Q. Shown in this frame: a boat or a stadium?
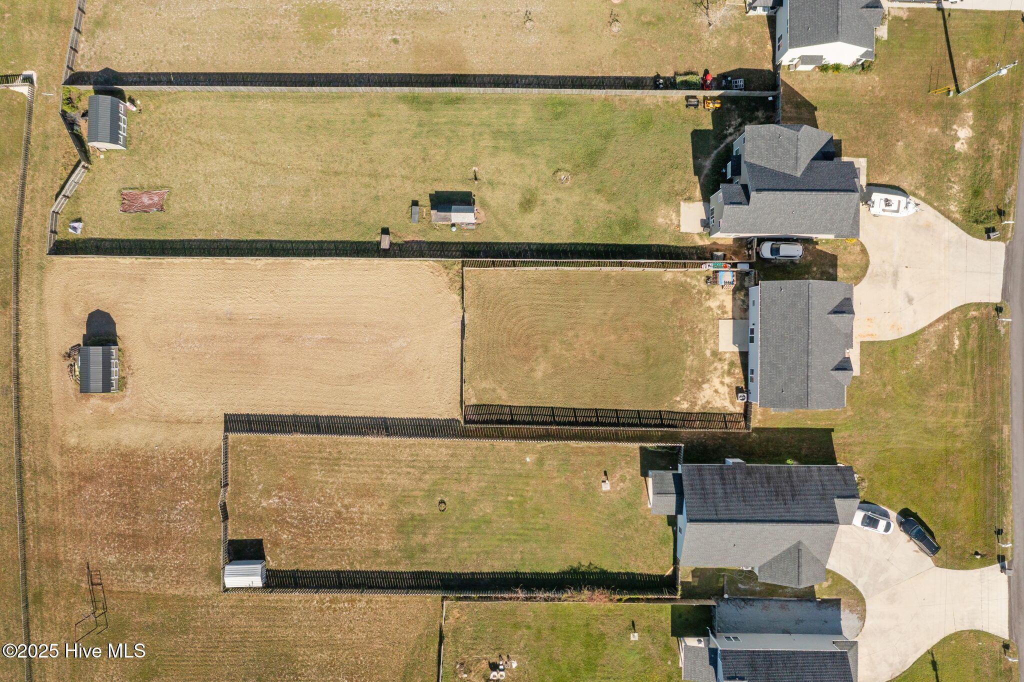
boat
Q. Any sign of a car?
Yes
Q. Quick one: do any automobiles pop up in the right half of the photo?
Yes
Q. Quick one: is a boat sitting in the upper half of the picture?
Yes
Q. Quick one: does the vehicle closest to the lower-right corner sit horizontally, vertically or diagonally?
diagonally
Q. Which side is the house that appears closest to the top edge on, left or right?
right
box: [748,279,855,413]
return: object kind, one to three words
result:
house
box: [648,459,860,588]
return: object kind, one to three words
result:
house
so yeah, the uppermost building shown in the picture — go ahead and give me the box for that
[747,0,883,71]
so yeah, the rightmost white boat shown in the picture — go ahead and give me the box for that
[865,191,925,216]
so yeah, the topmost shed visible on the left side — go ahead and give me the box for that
[87,98,127,154]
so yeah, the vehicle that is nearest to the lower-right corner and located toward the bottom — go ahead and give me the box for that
[894,516,943,559]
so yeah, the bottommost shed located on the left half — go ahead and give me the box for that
[223,561,267,593]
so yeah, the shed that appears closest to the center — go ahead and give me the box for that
[431,204,478,223]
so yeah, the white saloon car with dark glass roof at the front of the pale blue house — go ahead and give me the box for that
[852,507,895,533]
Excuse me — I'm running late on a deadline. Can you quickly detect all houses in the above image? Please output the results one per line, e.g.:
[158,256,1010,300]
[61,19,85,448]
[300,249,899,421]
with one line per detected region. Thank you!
[680,627,858,682]
[748,279,855,413]
[709,124,860,240]
[648,459,860,588]
[747,0,883,71]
